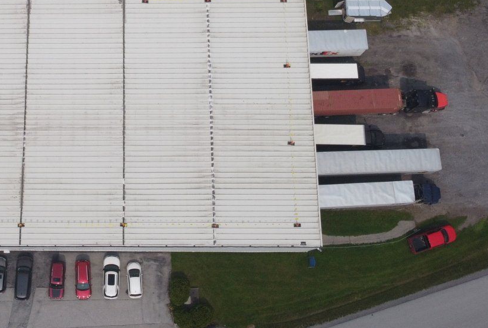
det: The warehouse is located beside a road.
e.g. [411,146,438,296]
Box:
[0,0,327,255]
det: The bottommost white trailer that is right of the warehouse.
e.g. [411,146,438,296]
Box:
[319,180,416,210]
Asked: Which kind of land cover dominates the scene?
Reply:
buildings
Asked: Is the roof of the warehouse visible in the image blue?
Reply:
No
